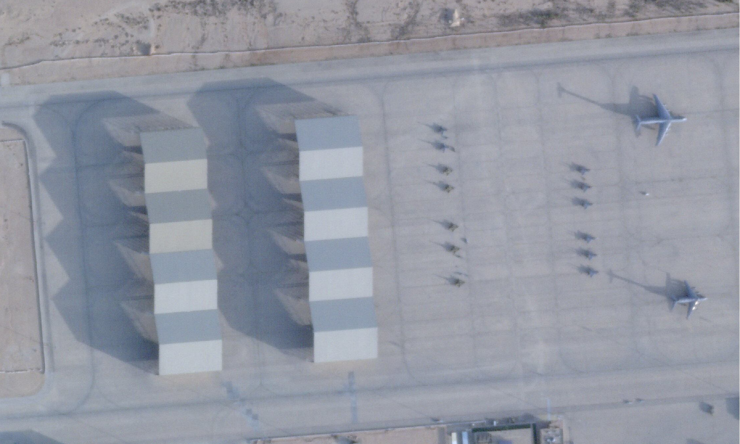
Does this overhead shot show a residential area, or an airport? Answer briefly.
airport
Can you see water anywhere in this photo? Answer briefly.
No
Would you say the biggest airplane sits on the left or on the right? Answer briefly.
right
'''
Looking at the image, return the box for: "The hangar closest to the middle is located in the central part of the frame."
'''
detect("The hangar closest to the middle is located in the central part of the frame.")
[288,116,377,363]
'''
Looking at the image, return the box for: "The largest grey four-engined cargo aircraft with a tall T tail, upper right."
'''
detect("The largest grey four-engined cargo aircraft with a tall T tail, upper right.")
[635,96,687,147]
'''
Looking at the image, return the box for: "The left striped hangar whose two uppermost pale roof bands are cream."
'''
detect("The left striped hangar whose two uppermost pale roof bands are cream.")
[134,127,220,375]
